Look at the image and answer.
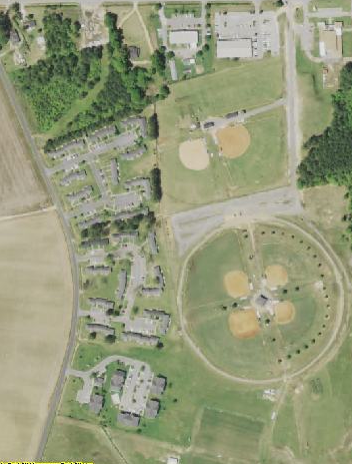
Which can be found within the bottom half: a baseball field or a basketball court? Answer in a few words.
baseball field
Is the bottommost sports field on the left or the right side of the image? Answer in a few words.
right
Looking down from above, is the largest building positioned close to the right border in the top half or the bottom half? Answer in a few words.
top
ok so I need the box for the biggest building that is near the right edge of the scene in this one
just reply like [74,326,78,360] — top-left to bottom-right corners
[319,23,342,53]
